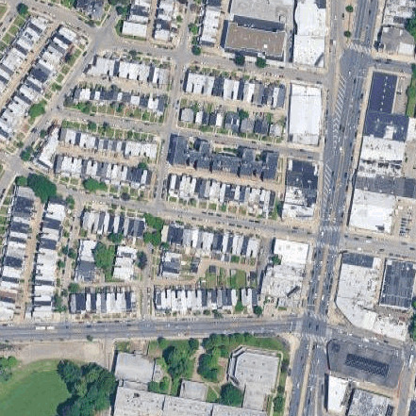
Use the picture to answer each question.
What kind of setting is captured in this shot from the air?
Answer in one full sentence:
The area seen from above is a residential area.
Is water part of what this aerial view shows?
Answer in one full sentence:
No, there's no water in this view.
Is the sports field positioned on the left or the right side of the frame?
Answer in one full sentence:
The sports field is on the left side of the image.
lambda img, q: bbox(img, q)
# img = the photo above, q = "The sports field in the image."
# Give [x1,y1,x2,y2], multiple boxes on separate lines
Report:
[0,353,75,416]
